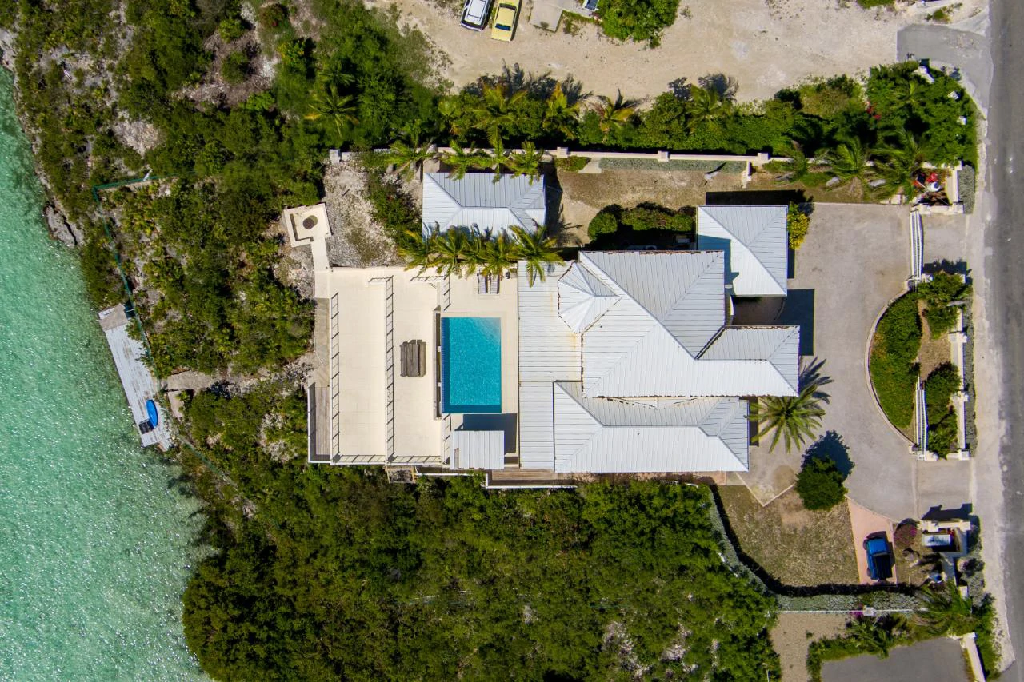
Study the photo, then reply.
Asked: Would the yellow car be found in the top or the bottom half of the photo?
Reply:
top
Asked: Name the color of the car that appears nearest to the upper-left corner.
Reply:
white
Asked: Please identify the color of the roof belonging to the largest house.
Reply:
white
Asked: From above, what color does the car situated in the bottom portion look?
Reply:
blue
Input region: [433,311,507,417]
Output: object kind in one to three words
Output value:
swimming pool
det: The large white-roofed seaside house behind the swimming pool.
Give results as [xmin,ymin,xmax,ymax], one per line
[518,249,801,473]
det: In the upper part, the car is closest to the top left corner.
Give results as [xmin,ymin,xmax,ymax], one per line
[459,0,493,34]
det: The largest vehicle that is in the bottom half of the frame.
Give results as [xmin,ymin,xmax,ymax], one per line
[859,532,891,581]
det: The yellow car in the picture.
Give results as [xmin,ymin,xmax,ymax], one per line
[492,0,524,44]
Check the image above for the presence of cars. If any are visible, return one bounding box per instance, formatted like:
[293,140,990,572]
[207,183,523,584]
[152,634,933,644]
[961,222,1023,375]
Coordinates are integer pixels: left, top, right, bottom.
[459,0,493,34]
[859,532,891,581]
[492,0,524,44]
